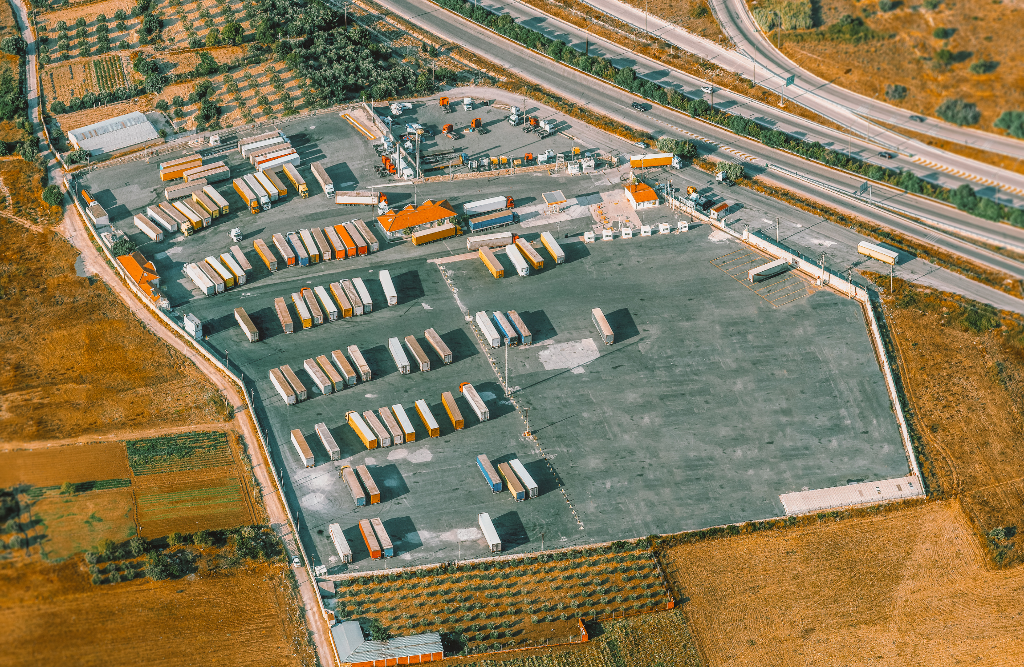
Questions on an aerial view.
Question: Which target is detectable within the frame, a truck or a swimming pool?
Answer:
truck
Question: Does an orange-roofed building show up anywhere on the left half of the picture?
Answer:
Yes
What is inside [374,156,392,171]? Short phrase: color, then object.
red vehicle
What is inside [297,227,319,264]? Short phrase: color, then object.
white truck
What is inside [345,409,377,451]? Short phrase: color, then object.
white truck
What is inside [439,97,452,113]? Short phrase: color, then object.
orange vehicle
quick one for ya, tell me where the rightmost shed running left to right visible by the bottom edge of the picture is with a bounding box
[329,621,444,667]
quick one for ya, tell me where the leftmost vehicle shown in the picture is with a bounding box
[79,190,96,206]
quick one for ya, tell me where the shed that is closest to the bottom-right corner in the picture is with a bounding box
[780,473,925,520]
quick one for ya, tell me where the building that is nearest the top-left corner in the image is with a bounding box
[71,112,162,166]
